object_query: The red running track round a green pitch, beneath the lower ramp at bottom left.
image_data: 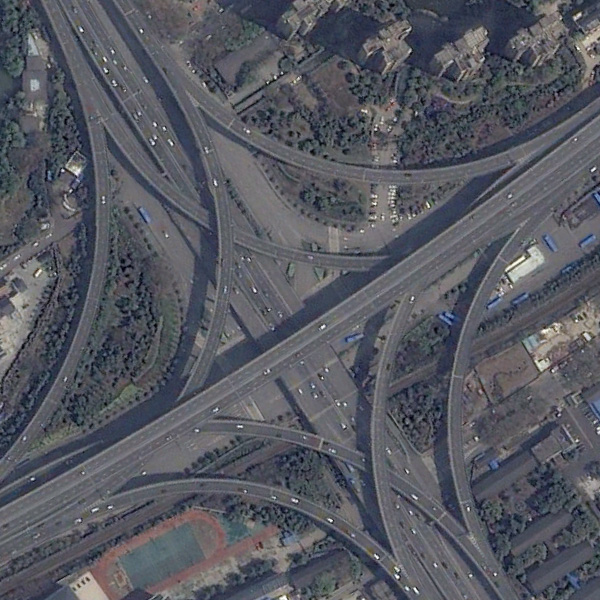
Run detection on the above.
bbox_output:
[96,509,274,600]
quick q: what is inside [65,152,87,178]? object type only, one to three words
building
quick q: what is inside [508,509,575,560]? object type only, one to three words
house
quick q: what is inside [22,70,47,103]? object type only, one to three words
shed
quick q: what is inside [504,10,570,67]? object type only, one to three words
building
